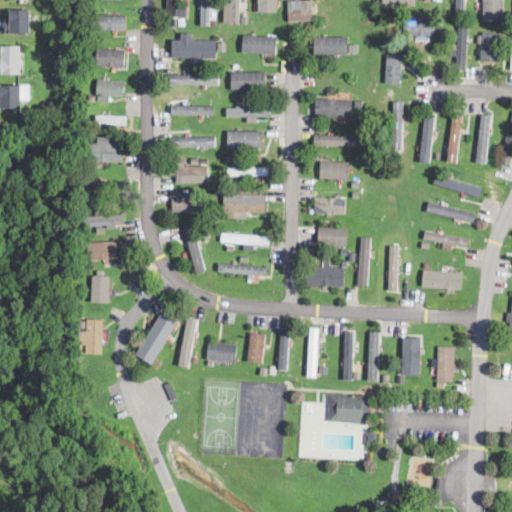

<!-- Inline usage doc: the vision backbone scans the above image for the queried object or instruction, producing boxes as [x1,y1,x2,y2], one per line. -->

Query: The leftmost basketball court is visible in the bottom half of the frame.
[203,380,240,454]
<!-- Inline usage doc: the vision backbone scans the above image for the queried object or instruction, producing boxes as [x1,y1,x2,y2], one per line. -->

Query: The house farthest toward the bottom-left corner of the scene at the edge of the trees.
[79,320,108,356]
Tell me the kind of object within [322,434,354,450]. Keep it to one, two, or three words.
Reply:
swimming pool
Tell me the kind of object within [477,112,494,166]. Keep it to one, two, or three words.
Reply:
house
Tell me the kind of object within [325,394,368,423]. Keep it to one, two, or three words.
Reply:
building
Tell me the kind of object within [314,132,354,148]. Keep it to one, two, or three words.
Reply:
house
